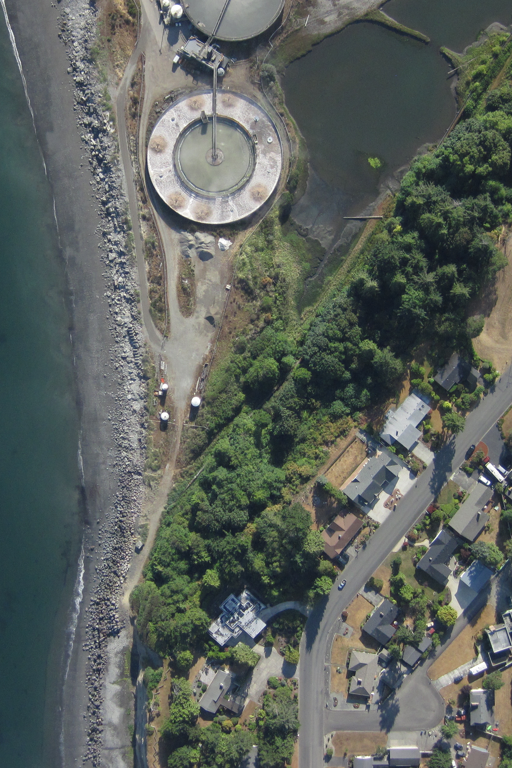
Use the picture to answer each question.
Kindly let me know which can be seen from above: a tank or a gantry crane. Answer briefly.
tank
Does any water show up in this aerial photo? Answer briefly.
Yes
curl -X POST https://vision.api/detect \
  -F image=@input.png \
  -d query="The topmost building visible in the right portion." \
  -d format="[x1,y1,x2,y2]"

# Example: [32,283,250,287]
[436,353,483,390]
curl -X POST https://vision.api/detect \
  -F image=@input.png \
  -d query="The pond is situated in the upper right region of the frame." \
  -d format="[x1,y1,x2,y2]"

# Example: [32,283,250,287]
[281,0,512,208]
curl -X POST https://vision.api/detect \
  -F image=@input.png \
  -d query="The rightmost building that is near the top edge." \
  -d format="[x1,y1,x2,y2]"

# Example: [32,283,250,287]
[178,33,234,72]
